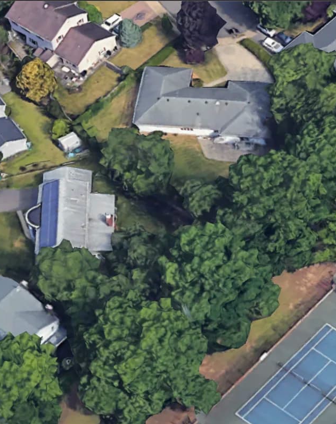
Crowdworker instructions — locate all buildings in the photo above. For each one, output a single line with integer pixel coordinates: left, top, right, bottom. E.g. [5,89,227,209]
[5,0,119,76]
[0,274,66,345]
[57,134,80,156]
[290,16,336,61]
[16,166,115,262]
[0,97,27,164]
[134,67,269,145]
